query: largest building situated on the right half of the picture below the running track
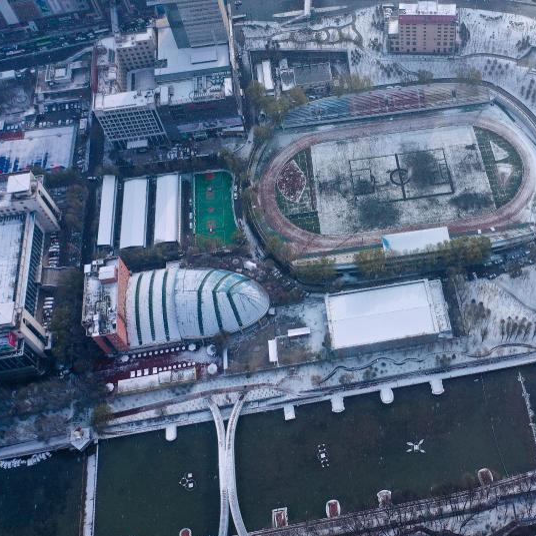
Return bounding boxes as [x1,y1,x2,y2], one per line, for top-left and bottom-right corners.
[325,279,452,358]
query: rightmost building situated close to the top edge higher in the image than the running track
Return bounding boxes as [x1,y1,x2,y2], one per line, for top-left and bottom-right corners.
[398,0,458,52]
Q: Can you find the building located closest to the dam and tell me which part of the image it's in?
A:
bottom left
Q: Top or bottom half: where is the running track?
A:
top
